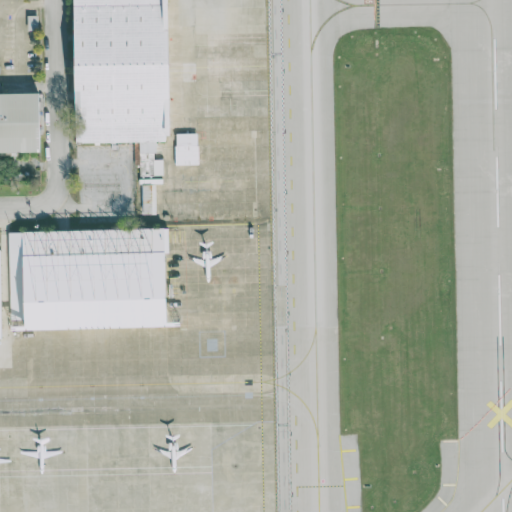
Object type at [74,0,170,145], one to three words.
hangar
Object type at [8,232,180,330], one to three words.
hangar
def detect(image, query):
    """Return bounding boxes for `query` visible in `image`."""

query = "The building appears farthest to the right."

[176,134,200,166]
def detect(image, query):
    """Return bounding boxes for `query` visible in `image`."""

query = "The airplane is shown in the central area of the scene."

[189,242,226,282]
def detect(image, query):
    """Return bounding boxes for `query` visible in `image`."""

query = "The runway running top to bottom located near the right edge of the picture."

[422,0,512,512]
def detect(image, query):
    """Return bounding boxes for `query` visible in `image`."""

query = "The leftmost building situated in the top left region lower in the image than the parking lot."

[0,94,42,153]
